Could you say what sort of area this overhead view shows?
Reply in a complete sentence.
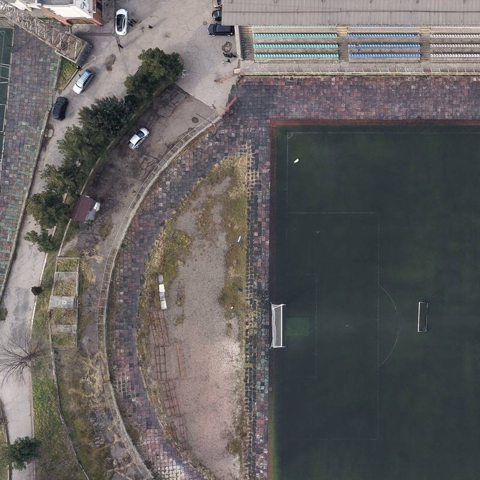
The picture captures a sports ground.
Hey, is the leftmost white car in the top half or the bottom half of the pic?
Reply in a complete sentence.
The leftmost white car sits in the top half of the picture.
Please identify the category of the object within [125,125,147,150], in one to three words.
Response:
car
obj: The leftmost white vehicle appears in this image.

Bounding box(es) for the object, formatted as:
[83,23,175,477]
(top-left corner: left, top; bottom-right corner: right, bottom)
[71,66,93,93]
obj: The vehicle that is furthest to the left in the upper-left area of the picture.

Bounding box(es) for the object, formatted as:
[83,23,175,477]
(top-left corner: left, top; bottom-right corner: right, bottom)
[50,93,67,120]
